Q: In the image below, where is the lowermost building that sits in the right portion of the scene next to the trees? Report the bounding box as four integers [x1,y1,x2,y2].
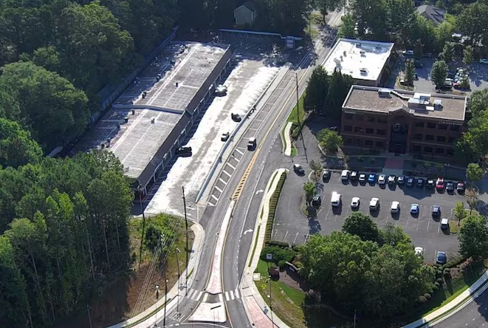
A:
[341,85,470,156]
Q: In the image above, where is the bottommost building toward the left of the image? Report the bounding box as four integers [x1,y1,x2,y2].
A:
[82,40,240,199]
